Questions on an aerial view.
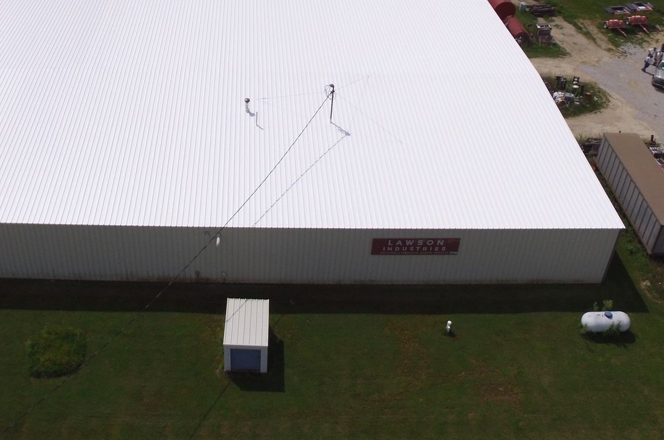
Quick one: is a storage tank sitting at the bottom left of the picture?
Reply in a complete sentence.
No, looking at the bottom left of the picture, there is no storage tank.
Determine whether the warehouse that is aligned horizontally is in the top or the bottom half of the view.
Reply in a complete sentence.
Seen from above, the warehouse that is aligned horizontally lies in the top half of the view.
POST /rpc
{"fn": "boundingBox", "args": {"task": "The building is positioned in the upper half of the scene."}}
[0,0,631,285]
